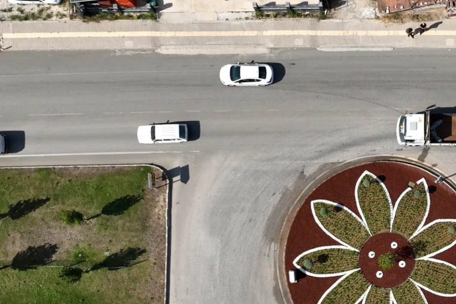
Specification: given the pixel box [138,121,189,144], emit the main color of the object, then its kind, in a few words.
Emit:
white car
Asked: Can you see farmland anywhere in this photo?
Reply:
No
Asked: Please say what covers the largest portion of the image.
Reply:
paved ground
